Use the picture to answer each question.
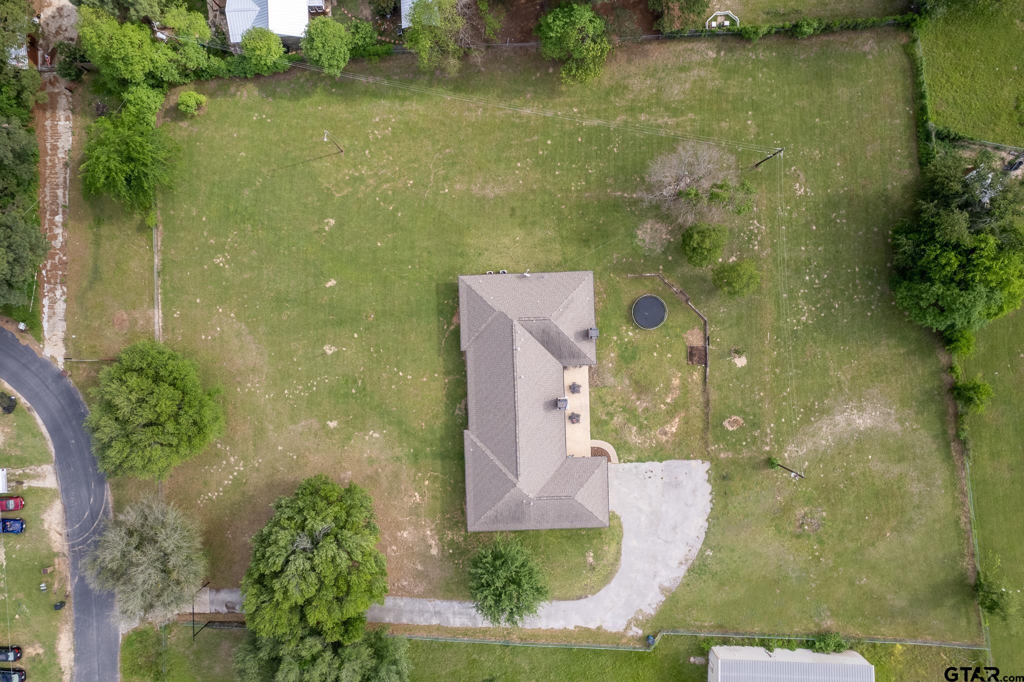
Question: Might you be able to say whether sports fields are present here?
No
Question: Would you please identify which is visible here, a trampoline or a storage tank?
trampoline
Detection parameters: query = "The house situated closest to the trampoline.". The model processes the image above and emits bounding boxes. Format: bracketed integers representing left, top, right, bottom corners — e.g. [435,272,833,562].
[458,271,611,532]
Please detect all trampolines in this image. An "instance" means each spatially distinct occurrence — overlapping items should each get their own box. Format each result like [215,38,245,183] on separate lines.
[632,294,667,330]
